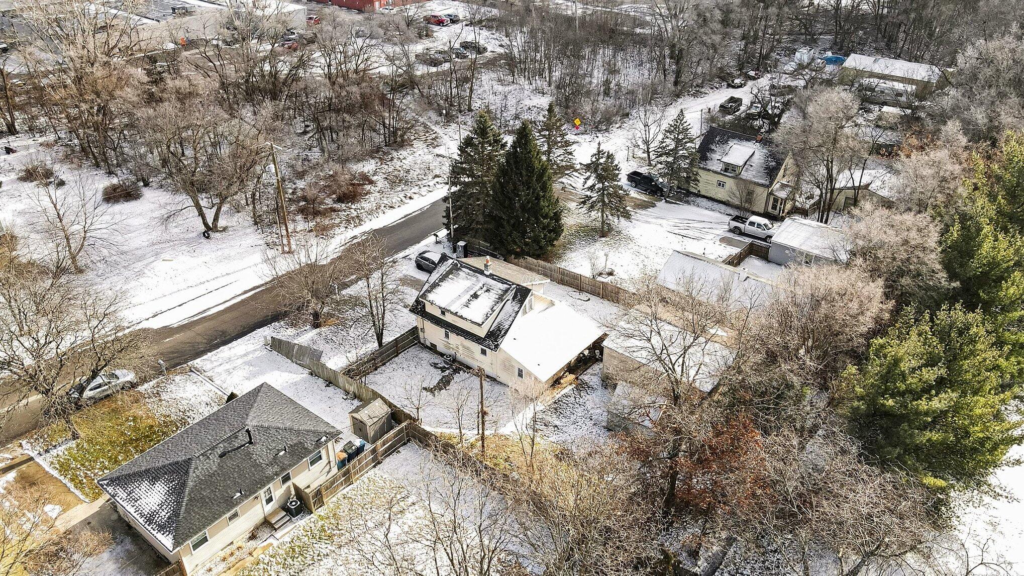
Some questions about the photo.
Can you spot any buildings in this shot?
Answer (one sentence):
Yes, the picture does show a building.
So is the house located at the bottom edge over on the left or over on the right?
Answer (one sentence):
You can find the house located at the bottom edge on the left side of the picture.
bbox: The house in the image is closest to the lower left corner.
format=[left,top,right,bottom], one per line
[95,379,345,576]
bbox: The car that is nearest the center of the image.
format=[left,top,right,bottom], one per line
[411,245,443,270]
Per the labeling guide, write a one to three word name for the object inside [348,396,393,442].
shed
